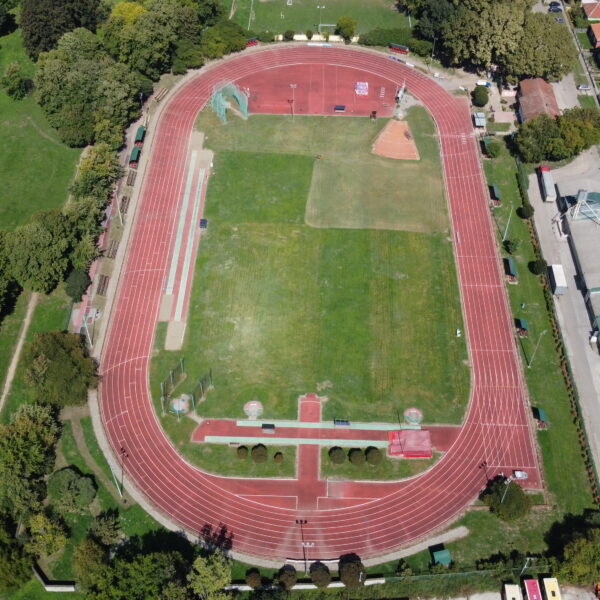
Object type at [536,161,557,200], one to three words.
truck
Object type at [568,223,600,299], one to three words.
building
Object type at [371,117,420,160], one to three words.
sports field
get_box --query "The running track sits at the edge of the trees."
[97,45,546,565]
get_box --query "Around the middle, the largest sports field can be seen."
[148,86,473,482]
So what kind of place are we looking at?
sports ground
